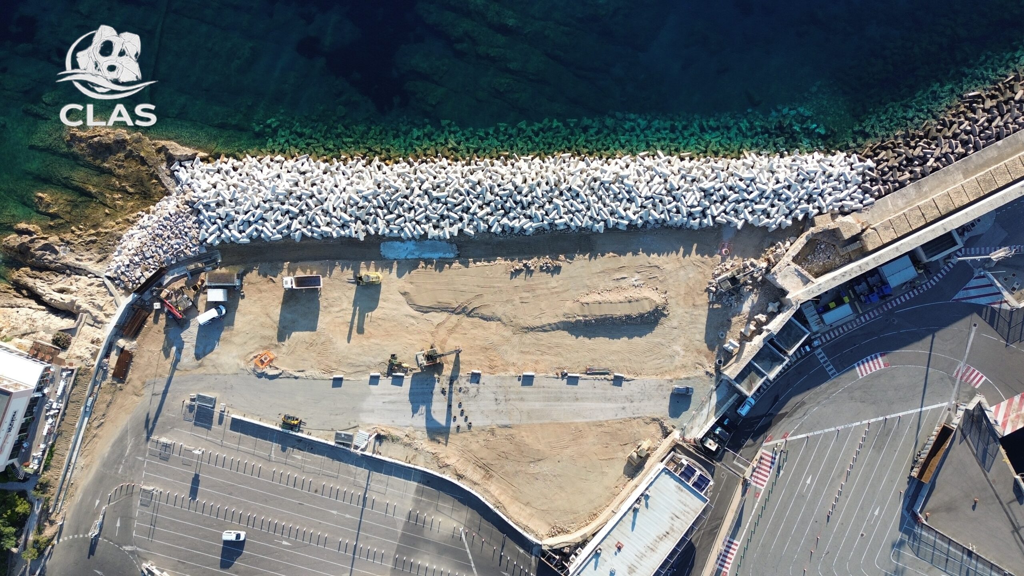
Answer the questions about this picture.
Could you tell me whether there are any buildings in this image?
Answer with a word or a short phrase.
Yes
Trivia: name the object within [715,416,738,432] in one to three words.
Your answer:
car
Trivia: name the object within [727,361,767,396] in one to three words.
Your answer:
building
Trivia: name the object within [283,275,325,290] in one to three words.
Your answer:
vehicle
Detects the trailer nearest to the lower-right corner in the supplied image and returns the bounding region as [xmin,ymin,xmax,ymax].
[904,420,955,483]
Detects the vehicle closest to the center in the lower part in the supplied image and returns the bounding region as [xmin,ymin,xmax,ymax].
[411,343,467,368]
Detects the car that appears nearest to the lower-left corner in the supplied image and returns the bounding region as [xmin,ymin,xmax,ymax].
[223,529,247,542]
